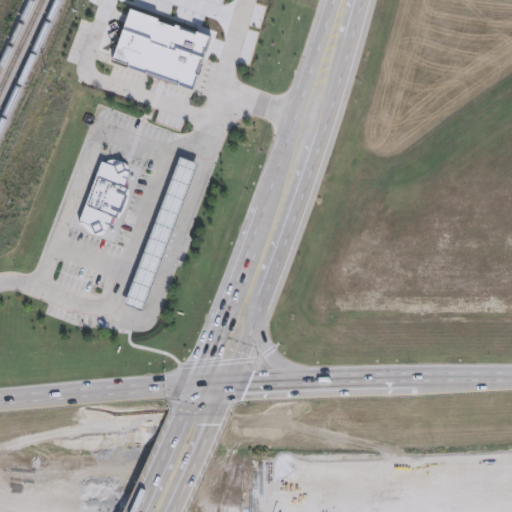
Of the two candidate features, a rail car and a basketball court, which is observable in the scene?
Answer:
rail car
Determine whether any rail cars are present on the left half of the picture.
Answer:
Yes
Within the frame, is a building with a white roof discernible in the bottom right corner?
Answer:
No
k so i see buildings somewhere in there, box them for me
[112,9,212,88]
[80,160,130,233]
[124,157,198,311]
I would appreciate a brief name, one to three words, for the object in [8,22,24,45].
rail car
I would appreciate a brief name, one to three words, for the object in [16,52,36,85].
rail car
